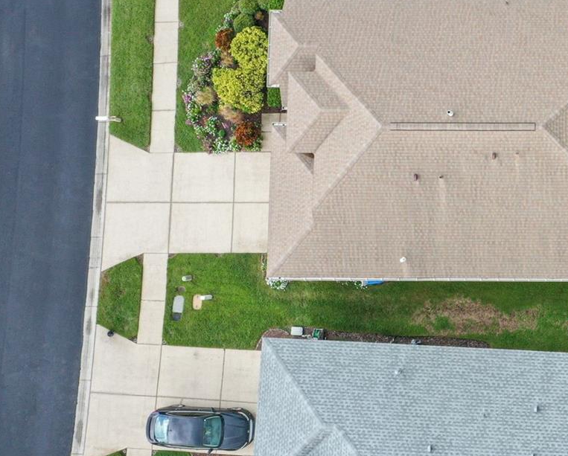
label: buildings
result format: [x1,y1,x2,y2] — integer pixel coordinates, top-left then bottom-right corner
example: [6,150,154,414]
[253,337,568,456]
[264,0,568,284]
